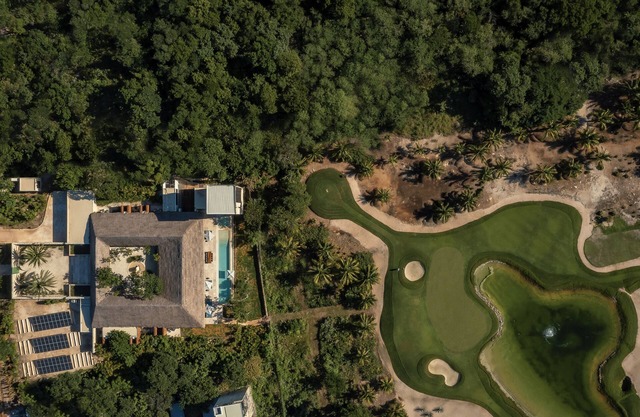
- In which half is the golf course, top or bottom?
bottom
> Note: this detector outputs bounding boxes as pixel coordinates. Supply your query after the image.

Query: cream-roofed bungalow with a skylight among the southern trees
[214,385,253,417]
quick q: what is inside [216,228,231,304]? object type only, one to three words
swimming pool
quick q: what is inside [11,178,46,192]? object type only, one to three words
shed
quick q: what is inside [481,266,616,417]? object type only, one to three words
pond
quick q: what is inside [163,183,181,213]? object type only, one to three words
building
